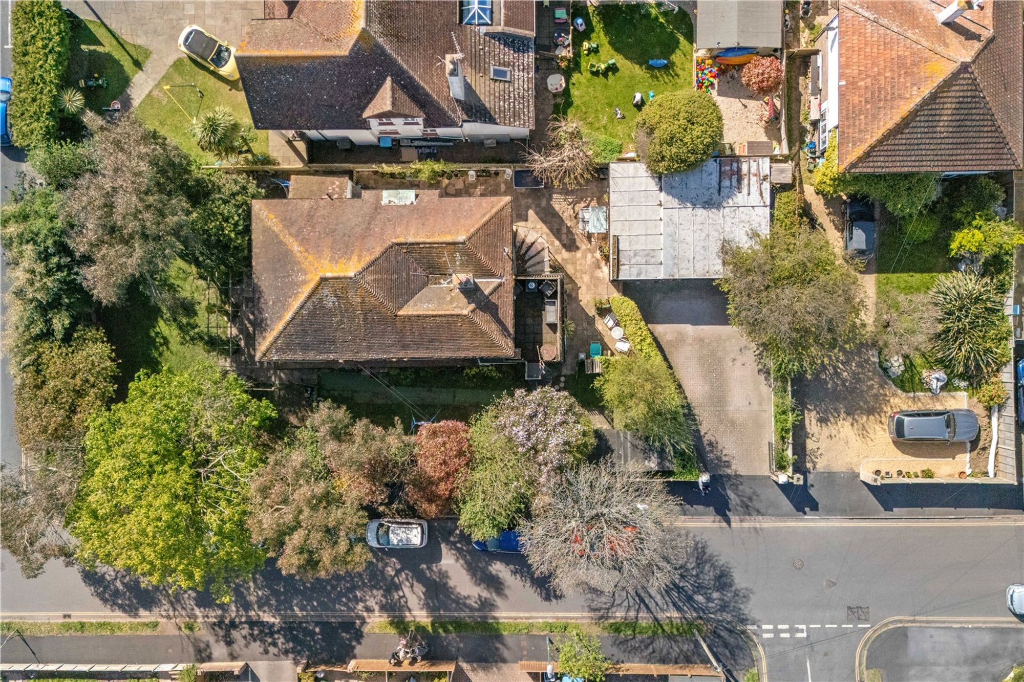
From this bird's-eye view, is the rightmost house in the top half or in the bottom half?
top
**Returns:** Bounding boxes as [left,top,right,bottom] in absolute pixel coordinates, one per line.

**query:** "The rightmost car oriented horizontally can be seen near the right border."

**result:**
[892,406,977,445]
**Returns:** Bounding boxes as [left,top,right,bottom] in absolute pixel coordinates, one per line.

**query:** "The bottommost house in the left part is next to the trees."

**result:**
[250,187,525,362]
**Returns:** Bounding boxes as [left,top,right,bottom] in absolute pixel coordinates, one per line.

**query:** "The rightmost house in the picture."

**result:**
[795,0,1024,181]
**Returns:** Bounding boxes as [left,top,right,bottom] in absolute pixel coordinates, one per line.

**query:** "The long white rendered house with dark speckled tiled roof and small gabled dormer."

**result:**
[230,0,537,154]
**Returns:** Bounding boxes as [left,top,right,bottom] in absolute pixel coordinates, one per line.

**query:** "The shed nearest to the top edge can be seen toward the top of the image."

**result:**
[689,0,782,59]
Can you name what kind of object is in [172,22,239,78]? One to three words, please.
car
